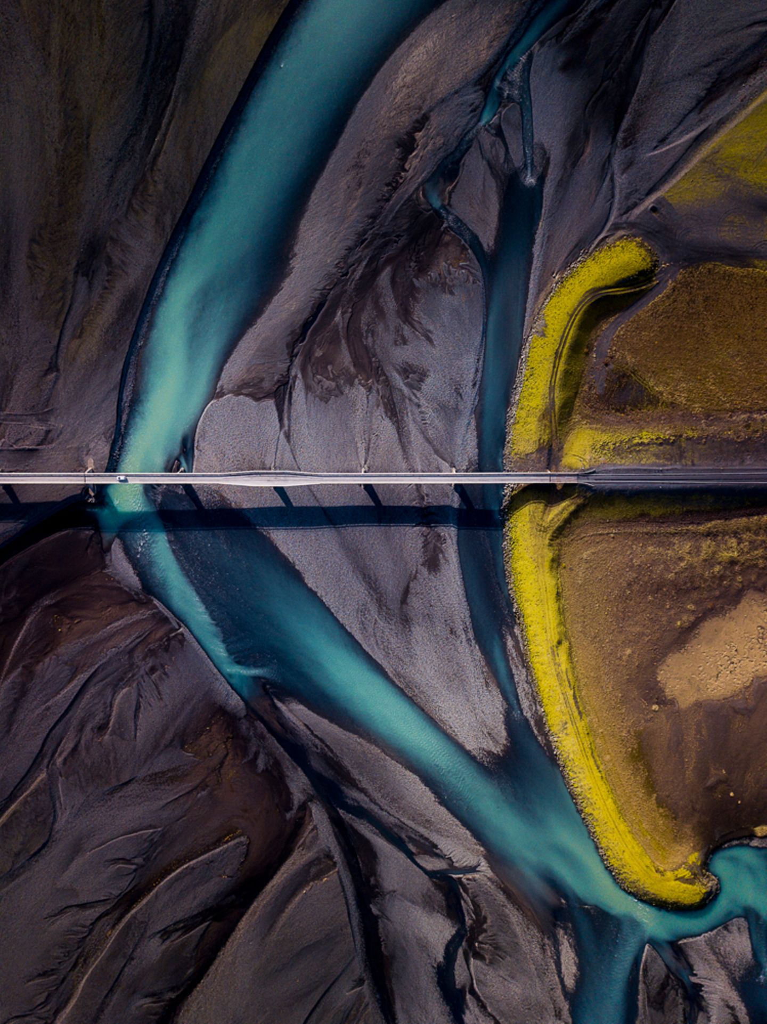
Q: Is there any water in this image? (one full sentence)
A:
Yes, there is water in the image.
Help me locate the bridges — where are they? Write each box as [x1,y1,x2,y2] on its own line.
[0,469,593,493]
